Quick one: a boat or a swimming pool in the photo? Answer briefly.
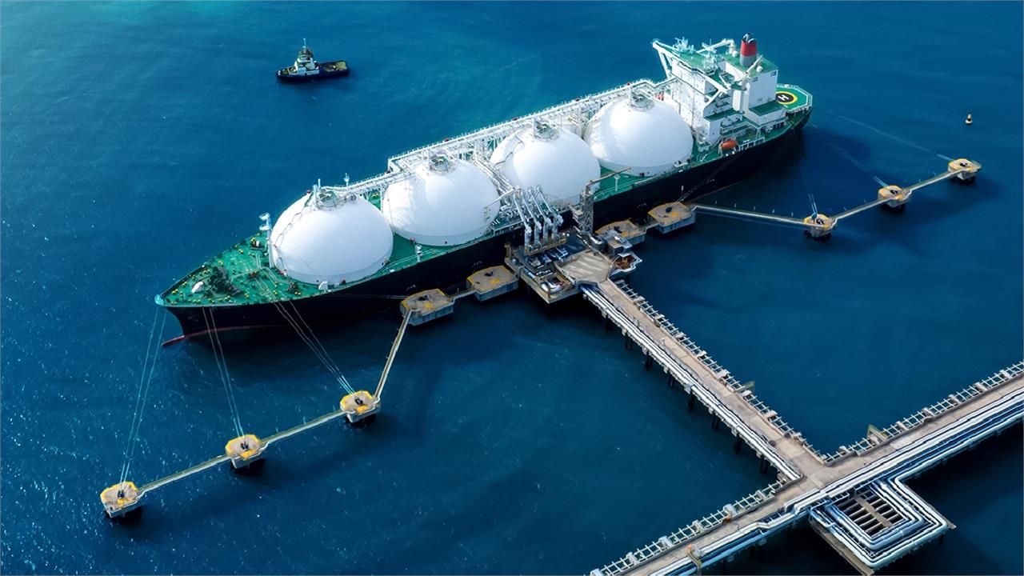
boat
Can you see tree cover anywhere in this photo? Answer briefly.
No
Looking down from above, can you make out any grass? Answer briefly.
No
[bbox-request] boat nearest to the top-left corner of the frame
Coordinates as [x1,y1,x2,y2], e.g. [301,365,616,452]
[277,38,350,83]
